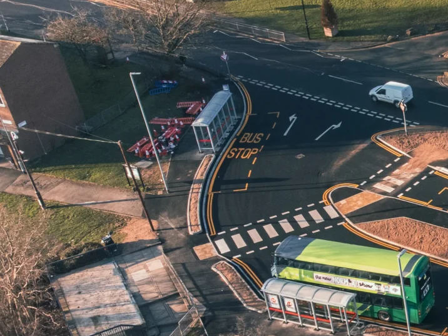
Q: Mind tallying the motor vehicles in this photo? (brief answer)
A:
2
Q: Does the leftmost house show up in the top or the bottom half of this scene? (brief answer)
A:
top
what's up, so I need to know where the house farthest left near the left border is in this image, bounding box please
[0,29,82,167]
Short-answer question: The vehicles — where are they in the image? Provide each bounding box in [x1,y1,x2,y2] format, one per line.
[367,82,418,112]
[267,229,434,321]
